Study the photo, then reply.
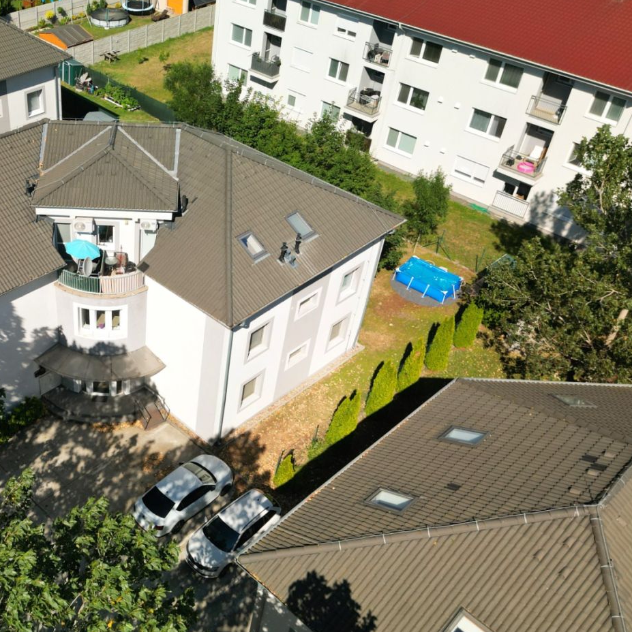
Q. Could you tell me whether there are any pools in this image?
Yes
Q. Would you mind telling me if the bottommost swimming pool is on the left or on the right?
right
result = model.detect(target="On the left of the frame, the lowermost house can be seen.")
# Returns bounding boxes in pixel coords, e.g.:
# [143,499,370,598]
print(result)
[0,110,408,454]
